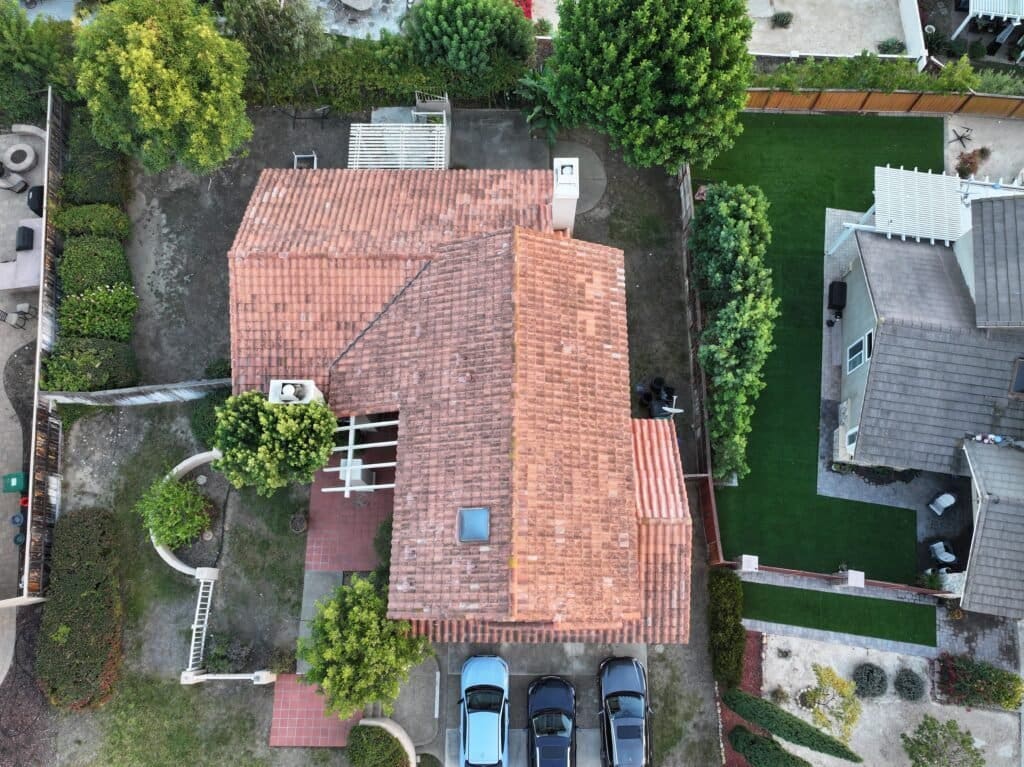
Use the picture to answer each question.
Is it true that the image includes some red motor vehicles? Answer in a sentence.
No, this view has no red motor vehicle in it.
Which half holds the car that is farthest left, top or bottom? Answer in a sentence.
Seen from above, the car that is farthest left lies in the bottom half of the view.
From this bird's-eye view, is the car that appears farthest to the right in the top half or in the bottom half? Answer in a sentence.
You can find the car that appears farthest to the right in the bottom half.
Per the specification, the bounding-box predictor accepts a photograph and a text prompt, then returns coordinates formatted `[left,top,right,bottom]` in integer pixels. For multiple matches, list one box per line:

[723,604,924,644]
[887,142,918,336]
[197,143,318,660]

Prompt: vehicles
[455,655,513,767]
[600,656,659,767]
[524,676,583,767]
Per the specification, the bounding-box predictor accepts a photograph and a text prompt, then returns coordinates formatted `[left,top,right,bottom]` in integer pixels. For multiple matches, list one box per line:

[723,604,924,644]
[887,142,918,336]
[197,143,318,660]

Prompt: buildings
[227,158,693,646]
[841,193,1024,617]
